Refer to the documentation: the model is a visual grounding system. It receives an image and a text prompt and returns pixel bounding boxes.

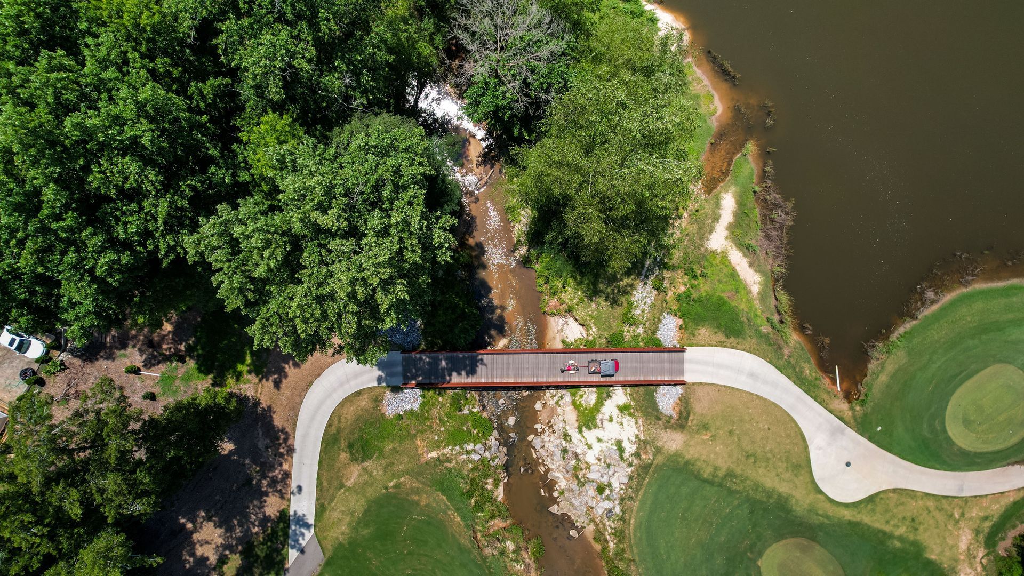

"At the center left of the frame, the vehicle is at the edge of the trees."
[0,327,43,359]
